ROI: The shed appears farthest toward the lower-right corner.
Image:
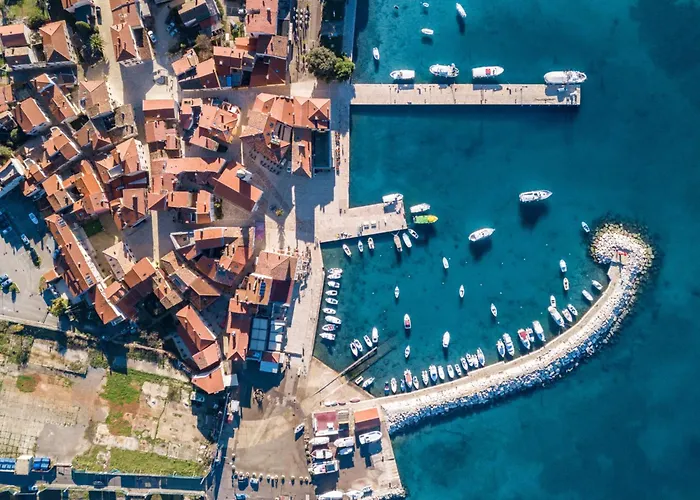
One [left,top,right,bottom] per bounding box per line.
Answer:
[353,405,382,434]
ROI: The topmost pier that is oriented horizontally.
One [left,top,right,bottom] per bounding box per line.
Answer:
[348,83,580,106]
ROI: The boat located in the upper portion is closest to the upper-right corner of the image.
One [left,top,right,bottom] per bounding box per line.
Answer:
[543,68,589,83]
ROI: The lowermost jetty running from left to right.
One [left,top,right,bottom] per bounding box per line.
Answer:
[319,201,407,243]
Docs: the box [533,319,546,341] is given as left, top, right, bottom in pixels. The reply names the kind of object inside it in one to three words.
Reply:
boat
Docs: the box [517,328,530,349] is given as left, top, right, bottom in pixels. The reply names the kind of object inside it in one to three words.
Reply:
boat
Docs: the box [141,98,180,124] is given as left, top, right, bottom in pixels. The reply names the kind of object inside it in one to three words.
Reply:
house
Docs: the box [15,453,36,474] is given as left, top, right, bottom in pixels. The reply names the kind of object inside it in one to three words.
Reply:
shed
